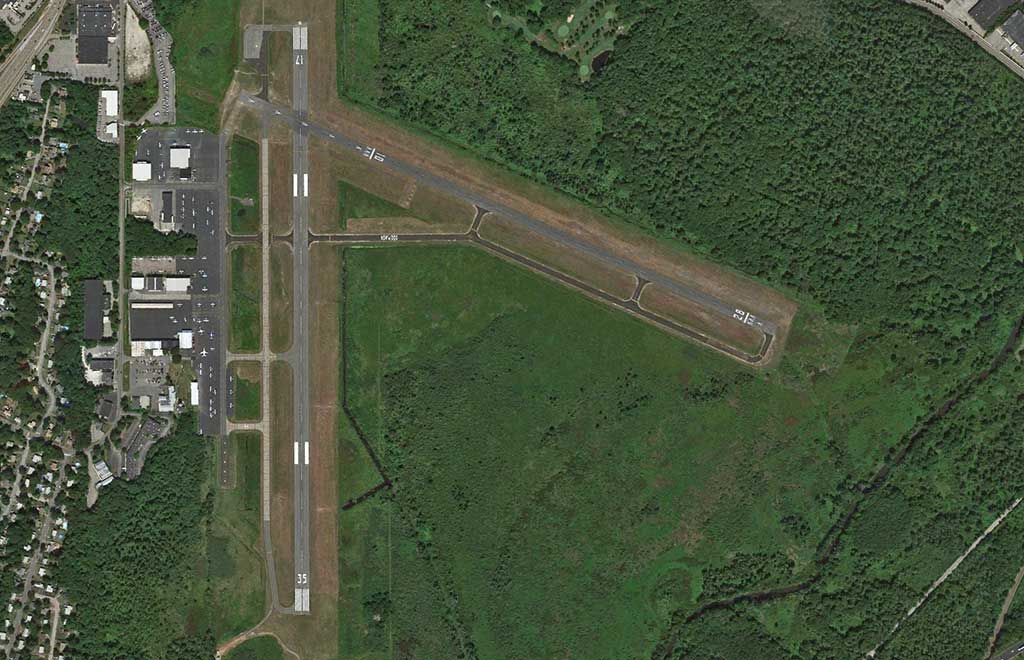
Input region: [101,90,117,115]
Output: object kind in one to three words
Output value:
building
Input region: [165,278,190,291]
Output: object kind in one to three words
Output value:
hangar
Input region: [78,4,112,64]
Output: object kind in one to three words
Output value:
building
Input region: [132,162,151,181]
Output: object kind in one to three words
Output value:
hangar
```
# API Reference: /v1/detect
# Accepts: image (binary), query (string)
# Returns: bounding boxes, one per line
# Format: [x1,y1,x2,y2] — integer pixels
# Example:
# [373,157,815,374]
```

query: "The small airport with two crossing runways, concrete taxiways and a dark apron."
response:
[124,0,777,616]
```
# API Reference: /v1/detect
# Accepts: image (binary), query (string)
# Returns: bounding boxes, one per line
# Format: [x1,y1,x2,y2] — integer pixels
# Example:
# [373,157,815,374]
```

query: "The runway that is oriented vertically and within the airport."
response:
[293,24,309,614]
